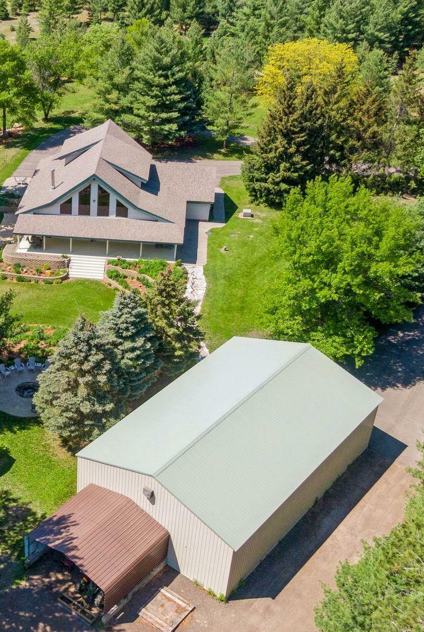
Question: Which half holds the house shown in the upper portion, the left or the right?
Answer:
left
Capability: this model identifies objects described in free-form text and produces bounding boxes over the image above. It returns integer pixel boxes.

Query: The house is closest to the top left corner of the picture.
[13,118,219,279]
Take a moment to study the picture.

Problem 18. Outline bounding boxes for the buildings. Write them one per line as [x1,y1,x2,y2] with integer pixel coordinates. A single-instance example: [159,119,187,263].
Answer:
[75,335,384,600]
[13,118,219,279]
